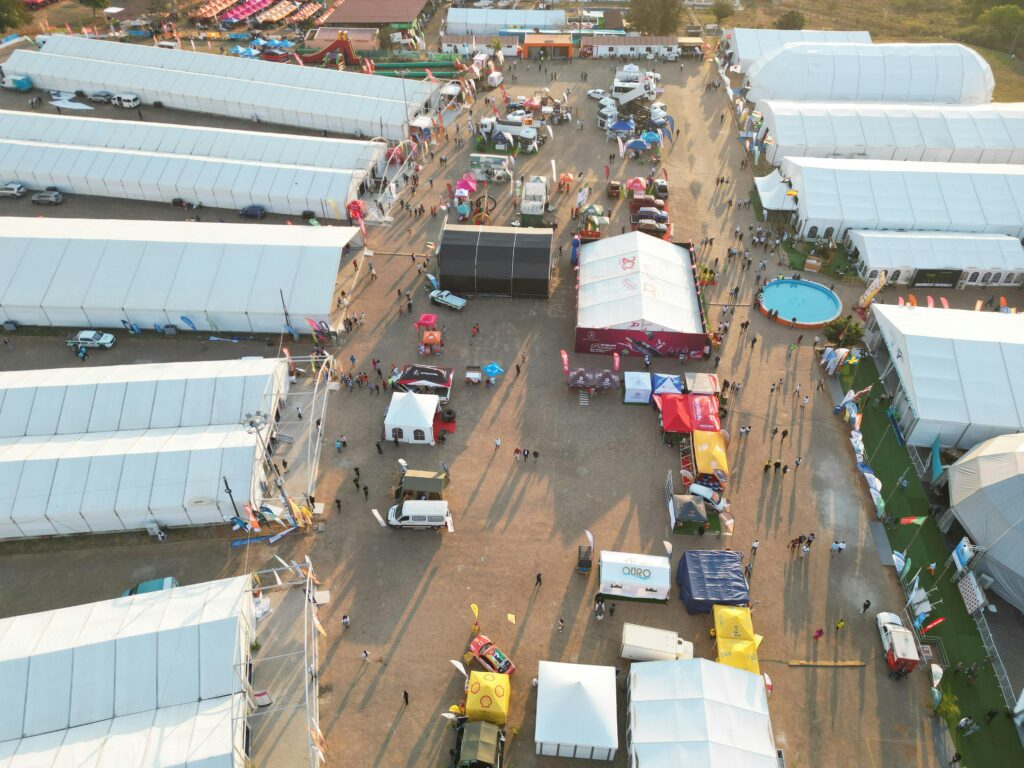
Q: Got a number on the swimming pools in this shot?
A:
1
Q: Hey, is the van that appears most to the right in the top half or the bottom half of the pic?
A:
bottom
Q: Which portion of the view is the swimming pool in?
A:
right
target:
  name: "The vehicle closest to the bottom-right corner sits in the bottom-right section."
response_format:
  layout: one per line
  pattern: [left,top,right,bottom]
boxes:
[878,610,933,690]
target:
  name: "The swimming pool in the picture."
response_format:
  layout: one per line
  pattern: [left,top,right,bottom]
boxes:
[754,278,844,332]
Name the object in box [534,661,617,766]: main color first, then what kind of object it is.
white tent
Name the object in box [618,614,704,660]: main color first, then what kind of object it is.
white truck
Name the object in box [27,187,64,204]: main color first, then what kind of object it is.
gray car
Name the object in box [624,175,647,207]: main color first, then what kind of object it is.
red gazebo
